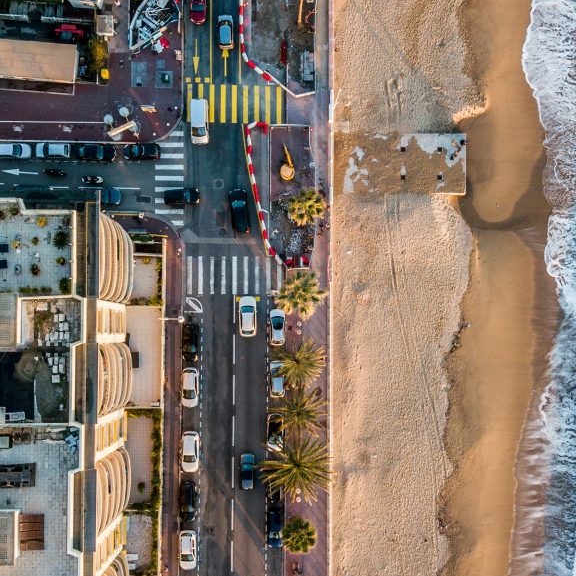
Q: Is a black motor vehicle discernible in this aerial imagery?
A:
Yes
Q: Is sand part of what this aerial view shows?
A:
Yes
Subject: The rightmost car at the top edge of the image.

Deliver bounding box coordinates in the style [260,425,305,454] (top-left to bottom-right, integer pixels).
[217,17,235,49]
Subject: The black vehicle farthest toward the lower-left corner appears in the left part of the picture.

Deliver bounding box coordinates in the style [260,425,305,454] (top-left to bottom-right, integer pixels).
[179,481,198,521]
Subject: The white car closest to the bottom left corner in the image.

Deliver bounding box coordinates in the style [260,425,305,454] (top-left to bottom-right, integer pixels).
[179,529,198,569]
